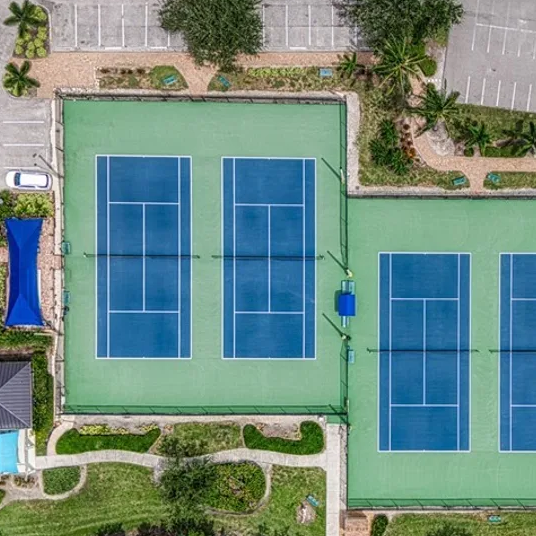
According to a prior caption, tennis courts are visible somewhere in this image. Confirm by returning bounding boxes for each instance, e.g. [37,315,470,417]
[207,101,347,414]
[347,198,484,508]
[484,198,536,508]
[63,100,207,414]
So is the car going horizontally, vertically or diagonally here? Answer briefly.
horizontally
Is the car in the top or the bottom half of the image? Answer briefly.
top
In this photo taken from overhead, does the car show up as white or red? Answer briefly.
white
